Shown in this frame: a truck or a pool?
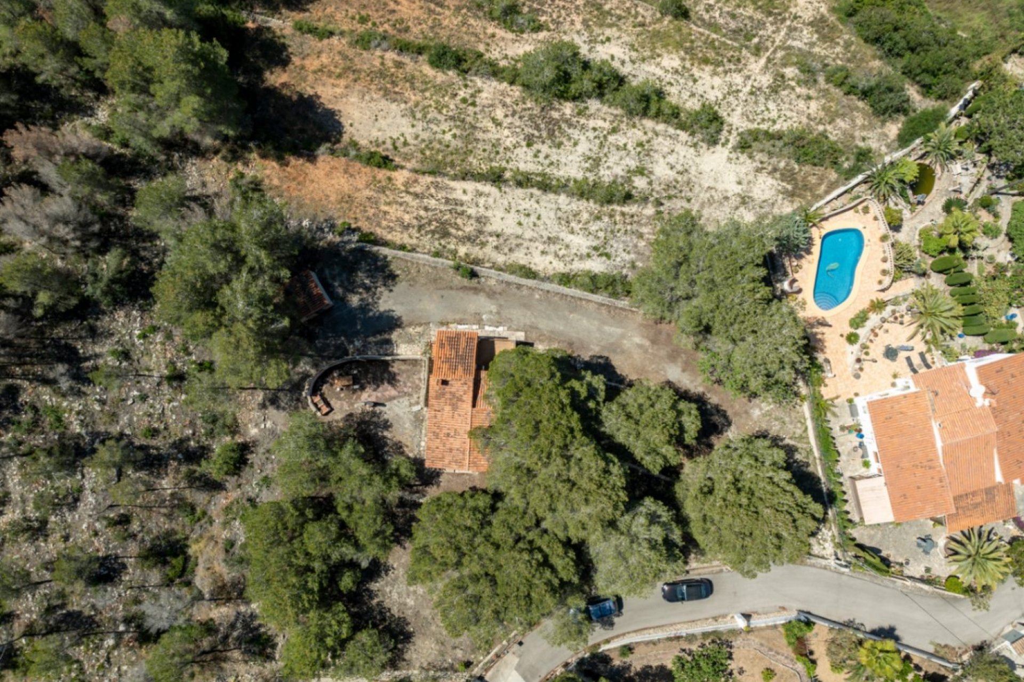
pool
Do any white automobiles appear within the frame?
No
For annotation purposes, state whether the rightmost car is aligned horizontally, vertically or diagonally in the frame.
horizontally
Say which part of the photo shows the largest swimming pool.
right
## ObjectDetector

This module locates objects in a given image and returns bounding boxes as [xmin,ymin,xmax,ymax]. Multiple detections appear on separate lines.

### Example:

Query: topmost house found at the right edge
[844,343,1024,533]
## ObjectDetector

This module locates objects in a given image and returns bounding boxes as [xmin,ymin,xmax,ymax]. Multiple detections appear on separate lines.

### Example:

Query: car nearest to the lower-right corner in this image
[661,576,714,604]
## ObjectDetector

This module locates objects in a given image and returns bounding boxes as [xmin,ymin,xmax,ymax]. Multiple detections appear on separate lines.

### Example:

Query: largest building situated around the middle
[425,324,525,474]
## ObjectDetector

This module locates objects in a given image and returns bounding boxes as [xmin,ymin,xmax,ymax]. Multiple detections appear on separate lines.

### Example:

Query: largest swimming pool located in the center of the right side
[808,222,870,316]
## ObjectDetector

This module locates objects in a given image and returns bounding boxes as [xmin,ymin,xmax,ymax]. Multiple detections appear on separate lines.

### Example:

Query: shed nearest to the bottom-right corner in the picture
[987,617,1024,657]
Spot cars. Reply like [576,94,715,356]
[661,576,714,604]
[581,595,623,625]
